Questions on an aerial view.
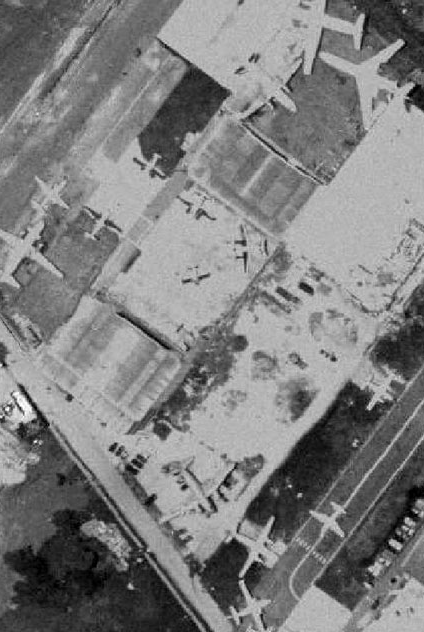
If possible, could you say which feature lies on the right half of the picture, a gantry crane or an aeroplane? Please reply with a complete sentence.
There is an aeroplane on the right half of the picture.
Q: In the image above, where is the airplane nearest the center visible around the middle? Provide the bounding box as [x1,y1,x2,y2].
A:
[181,265,211,286]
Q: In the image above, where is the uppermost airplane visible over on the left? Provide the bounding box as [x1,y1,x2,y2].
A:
[133,152,167,180]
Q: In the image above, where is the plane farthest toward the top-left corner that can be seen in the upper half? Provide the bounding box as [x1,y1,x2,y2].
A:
[29,175,70,216]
